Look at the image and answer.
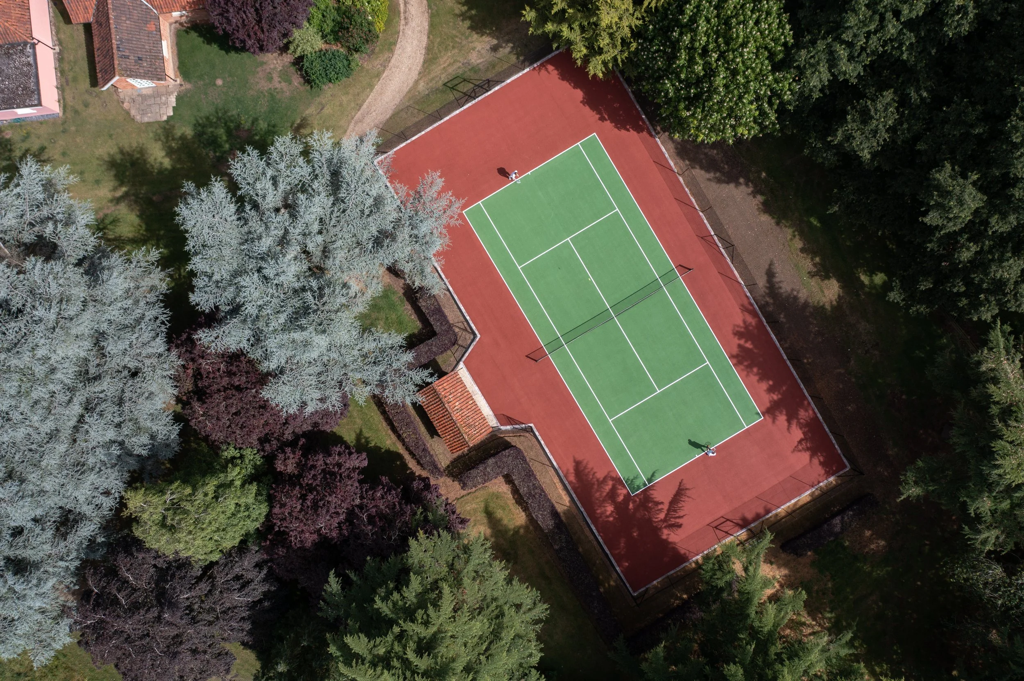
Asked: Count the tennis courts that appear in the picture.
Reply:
1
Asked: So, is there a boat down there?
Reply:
No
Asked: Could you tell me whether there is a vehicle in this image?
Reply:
No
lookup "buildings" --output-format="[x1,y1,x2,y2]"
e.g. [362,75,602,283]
[65,0,219,90]
[0,0,61,118]
[418,365,499,454]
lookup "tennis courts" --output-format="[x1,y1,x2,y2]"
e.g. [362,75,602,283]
[372,40,851,598]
